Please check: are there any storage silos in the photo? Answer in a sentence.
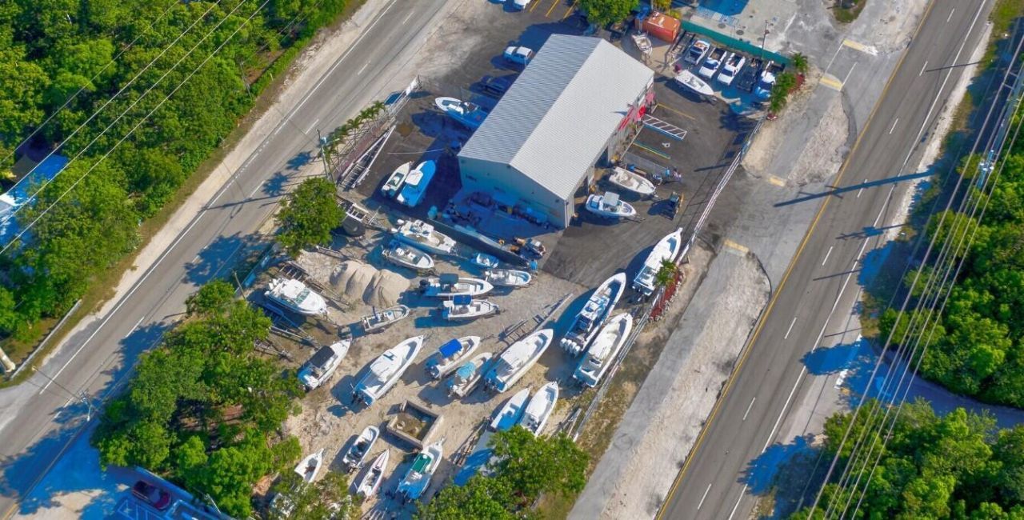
No, there appears to be no storage silo in this shot.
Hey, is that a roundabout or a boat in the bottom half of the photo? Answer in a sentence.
The feature located in the bottom half of the photo is a boat.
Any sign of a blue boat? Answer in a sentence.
Yes, the frame does contain a blue boat.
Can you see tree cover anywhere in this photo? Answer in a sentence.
Yes, some tree cover is visible.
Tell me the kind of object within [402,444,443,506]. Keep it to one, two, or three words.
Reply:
boat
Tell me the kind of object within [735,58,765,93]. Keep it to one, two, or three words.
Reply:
truck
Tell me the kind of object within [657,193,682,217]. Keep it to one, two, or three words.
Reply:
work vehicle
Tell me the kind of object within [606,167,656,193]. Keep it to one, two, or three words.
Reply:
boat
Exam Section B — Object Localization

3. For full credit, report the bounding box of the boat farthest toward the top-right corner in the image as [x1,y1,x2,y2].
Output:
[672,68,715,96]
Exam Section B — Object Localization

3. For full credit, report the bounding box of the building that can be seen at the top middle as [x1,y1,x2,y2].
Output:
[456,34,658,230]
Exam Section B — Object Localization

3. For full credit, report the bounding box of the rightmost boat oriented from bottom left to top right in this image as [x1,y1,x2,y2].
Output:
[633,230,682,301]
